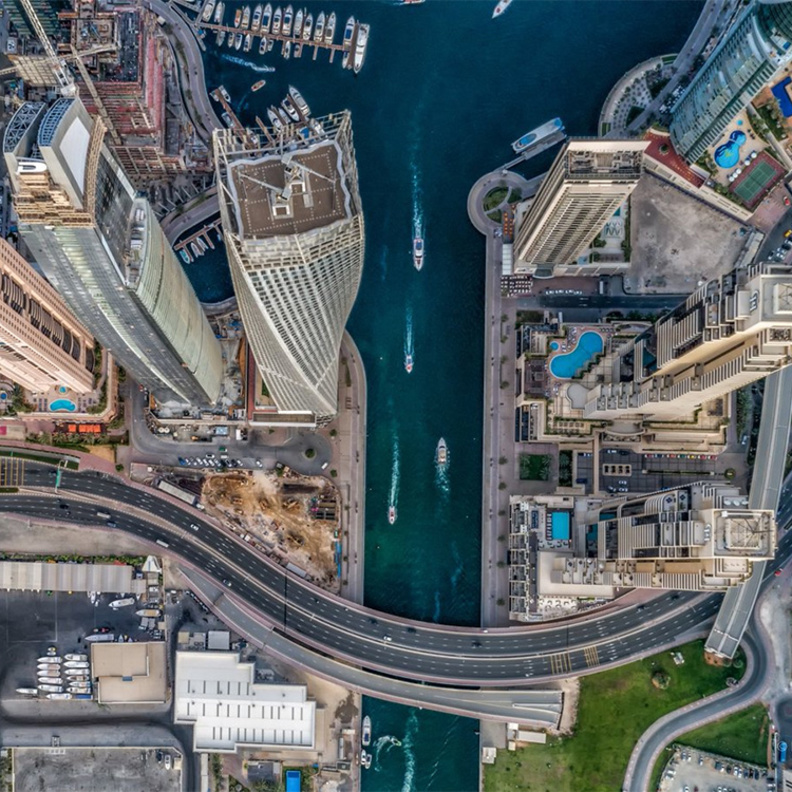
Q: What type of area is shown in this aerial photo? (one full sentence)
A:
The area seen from above is a port.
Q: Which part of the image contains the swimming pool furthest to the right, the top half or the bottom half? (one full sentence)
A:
The top half of the photo is where the swimming pool furthest to the right is.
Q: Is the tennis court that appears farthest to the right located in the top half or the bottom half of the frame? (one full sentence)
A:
The tennis court that appears farthest to the right sits in the top half of the picture.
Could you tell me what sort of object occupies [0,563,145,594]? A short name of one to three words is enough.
shed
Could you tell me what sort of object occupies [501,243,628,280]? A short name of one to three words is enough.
building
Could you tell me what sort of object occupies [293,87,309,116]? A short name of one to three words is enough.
boat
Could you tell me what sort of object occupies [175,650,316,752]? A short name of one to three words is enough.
building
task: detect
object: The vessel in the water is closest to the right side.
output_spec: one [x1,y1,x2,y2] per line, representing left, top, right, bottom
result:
[507,118,565,151]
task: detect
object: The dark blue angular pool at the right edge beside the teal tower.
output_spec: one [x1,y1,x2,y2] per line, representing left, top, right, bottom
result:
[770,73,792,118]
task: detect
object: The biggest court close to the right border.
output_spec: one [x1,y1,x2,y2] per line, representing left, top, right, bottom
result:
[729,150,787,212]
